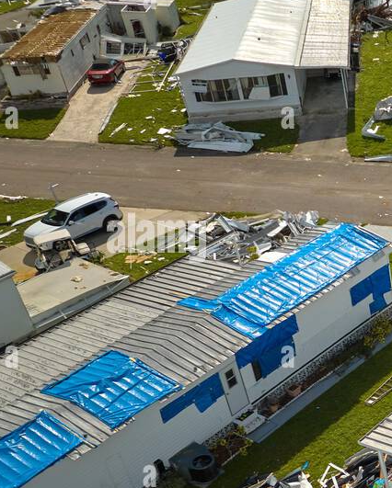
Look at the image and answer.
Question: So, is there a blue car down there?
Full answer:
No, I can't see a single blue car in this photo.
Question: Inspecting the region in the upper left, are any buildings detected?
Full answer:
Yes, a building appears in the upper left.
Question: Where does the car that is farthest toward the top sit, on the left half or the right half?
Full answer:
The car that is farthest toward the top sits on the left side.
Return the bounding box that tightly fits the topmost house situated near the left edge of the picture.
[0,0,155,103]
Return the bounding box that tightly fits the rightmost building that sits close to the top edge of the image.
[174,0,352,119]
